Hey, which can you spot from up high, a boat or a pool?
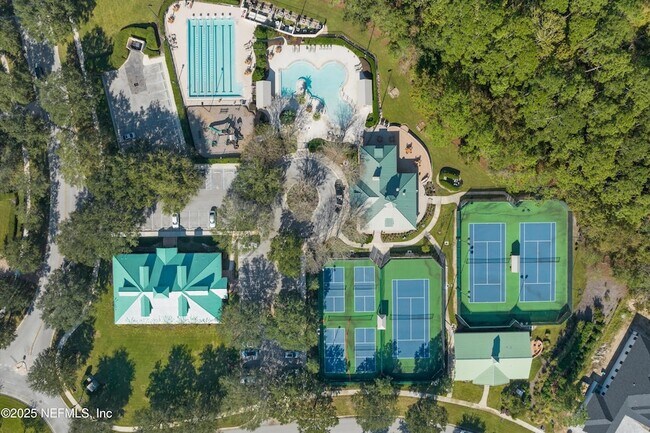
pool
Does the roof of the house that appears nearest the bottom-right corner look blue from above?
No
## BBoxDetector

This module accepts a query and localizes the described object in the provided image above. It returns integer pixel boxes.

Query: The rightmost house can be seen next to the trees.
[581,330,650,433]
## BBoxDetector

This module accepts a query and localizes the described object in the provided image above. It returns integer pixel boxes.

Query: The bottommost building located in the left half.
[114,248,229,324]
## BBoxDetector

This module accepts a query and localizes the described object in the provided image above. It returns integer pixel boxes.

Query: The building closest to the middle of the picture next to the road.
[350,145,417,230]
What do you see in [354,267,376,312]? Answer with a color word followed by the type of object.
blue sports court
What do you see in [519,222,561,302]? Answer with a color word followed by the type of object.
blue tennis court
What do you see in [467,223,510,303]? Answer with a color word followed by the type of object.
blue tennis court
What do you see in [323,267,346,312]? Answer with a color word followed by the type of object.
blue sports court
